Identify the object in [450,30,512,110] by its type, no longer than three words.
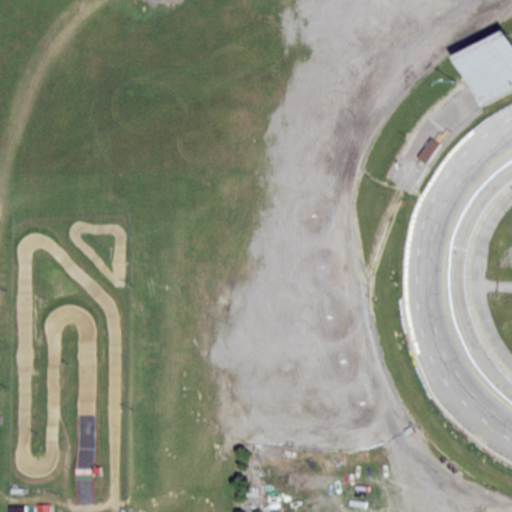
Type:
building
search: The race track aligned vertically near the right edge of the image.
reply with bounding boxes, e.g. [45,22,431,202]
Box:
[408,104,512,460]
